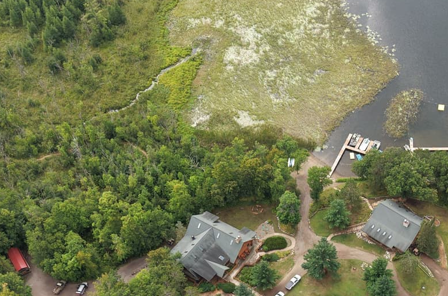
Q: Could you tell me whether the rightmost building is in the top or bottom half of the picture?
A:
bottom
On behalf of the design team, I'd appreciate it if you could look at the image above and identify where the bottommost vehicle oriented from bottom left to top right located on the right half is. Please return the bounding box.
[285,274,302,291]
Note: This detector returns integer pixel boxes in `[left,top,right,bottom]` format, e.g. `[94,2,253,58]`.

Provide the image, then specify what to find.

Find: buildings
[9,248,33,279]
[362,199,428,256]
[169,211,264,286]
